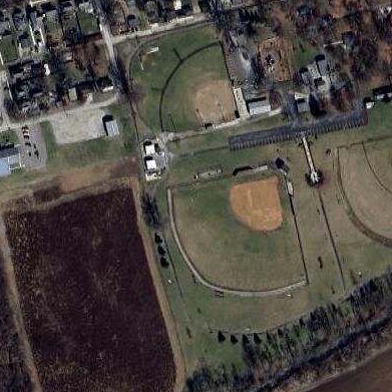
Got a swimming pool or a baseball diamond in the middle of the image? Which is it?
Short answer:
baseball diamond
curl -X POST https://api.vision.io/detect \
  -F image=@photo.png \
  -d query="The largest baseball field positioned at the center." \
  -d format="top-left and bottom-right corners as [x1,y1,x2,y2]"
[167,165,308,294]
